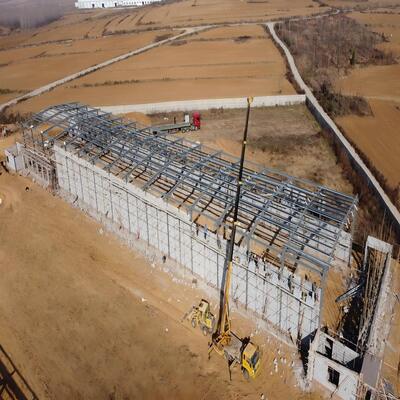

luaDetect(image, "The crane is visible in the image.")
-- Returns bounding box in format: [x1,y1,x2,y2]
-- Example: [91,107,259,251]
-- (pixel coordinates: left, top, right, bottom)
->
[202,99,264,377]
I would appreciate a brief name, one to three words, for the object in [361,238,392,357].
building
